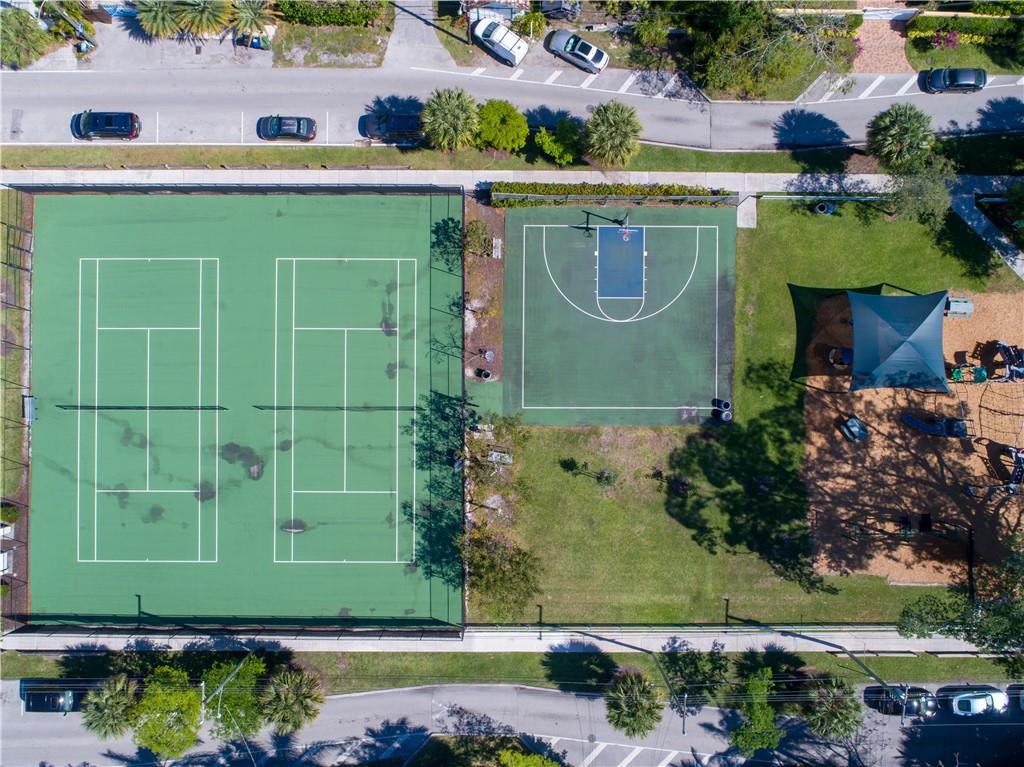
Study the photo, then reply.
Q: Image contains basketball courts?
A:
Yes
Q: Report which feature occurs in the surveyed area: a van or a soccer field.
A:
van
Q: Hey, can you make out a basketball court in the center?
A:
Yes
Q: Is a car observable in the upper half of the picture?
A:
Yes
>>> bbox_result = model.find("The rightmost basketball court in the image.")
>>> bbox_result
[503,206,737,426]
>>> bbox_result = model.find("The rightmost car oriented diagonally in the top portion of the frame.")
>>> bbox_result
[549,29,609,76]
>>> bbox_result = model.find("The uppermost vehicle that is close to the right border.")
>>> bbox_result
[922,65,987,96]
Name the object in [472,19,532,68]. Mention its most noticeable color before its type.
white car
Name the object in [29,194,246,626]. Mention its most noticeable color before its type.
green tennis court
